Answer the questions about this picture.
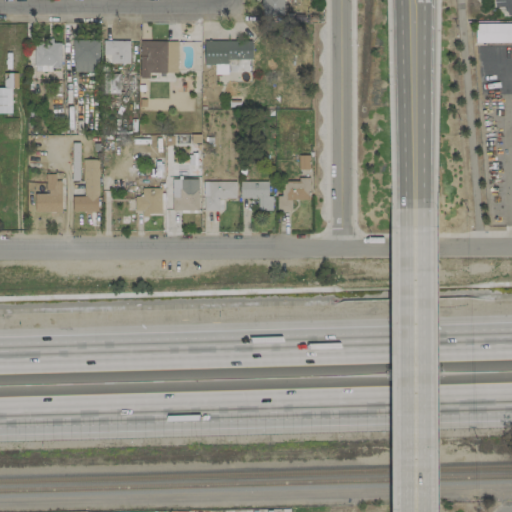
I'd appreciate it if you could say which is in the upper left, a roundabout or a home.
home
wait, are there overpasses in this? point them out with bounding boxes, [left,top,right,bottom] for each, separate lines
[388,0,442,512]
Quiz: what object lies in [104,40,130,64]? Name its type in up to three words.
house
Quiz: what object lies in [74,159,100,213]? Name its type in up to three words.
house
